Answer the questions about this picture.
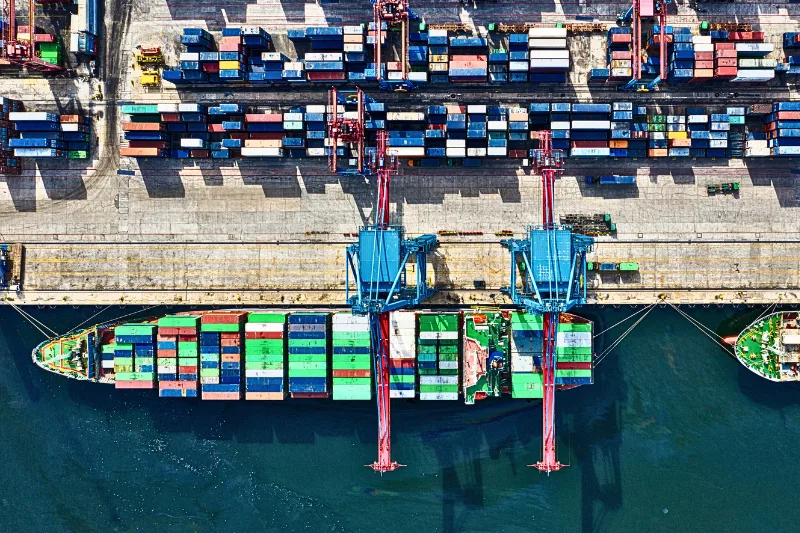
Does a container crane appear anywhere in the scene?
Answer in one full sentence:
Yes, this view includes a container crane.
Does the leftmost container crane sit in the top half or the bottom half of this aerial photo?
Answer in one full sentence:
The leftmost container crane is in the top half of the image.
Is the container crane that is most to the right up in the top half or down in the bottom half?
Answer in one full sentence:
Seen from above, the container crane that is most to the right lies in the top half of the view.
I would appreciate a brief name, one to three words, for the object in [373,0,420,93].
container crane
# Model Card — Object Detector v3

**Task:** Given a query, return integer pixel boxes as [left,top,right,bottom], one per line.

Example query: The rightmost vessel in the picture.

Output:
[721,314,800,388]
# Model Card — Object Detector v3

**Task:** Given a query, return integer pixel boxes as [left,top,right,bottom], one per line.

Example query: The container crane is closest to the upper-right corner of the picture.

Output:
[615,0,667,93]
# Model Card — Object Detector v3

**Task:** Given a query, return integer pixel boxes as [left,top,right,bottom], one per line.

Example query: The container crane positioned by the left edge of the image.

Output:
[2,0,88,76]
